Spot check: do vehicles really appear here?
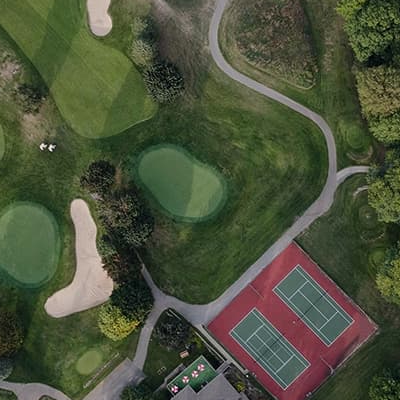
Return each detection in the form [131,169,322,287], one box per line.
[40,143,48,151]
[49,144,57,152]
